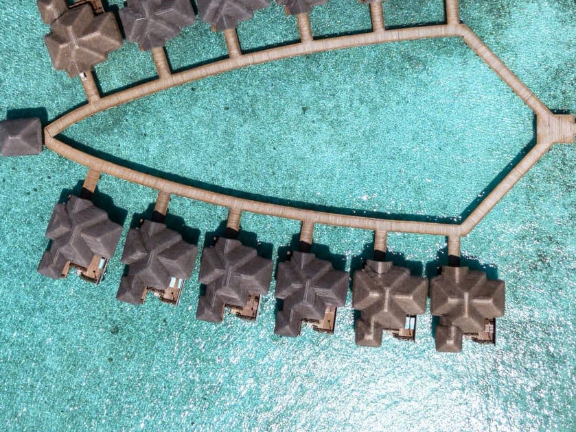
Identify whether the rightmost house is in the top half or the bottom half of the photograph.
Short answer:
bottom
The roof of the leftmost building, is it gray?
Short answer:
Yes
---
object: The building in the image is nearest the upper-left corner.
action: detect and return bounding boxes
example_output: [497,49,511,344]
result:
[33,0,123,80]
